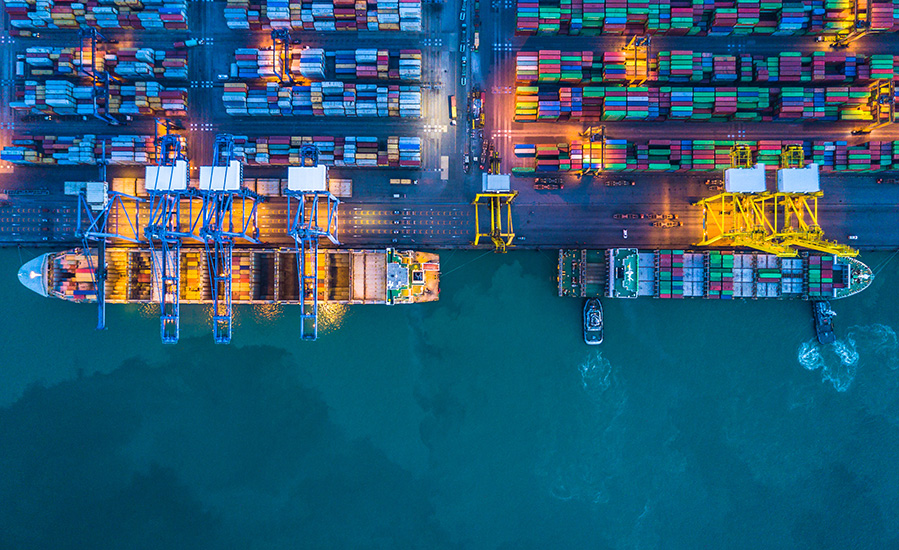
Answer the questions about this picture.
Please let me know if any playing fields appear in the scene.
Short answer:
No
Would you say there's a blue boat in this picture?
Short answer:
Yes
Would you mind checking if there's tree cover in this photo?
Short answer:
No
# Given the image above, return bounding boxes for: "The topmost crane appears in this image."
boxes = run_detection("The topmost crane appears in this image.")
[829,0,870,45]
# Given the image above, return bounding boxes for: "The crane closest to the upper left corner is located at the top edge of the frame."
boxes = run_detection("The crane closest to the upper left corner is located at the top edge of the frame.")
[79,25,118,82]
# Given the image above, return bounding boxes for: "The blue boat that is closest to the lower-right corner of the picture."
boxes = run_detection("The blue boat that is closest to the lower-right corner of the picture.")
[810,298,834,345]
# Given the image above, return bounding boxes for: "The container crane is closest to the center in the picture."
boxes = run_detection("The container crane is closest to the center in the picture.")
[465,159,523,254]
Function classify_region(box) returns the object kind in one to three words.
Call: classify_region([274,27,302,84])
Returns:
crane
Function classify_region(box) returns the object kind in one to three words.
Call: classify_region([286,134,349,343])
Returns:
container crane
